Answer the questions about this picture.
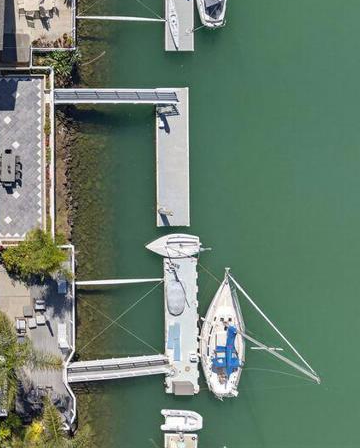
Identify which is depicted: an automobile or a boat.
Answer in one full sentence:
Looking from above, you can make out a boat.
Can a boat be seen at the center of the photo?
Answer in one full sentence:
Yes, I can see a boat at the center of the photo.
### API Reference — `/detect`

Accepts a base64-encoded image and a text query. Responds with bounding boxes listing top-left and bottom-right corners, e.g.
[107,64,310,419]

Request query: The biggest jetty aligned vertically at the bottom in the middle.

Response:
[164,258,198,394]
